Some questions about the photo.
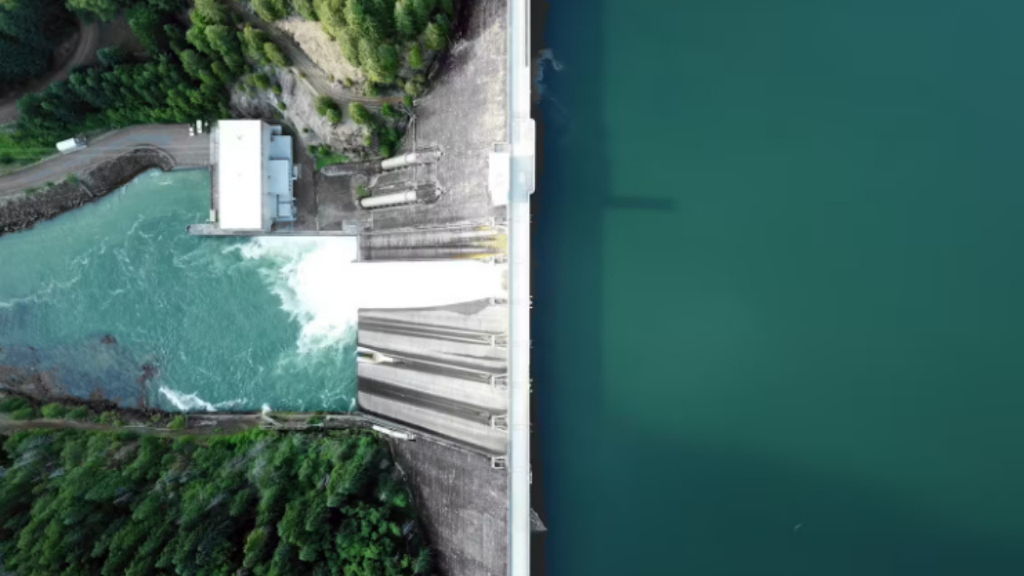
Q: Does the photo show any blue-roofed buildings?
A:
No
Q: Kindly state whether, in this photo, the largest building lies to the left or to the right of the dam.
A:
to the left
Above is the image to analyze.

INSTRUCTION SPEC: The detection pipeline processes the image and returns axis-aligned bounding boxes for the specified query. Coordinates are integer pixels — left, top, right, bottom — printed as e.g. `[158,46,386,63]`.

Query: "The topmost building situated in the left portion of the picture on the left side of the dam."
[209,120,300,234]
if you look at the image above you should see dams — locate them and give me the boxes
[355,0,549,576]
